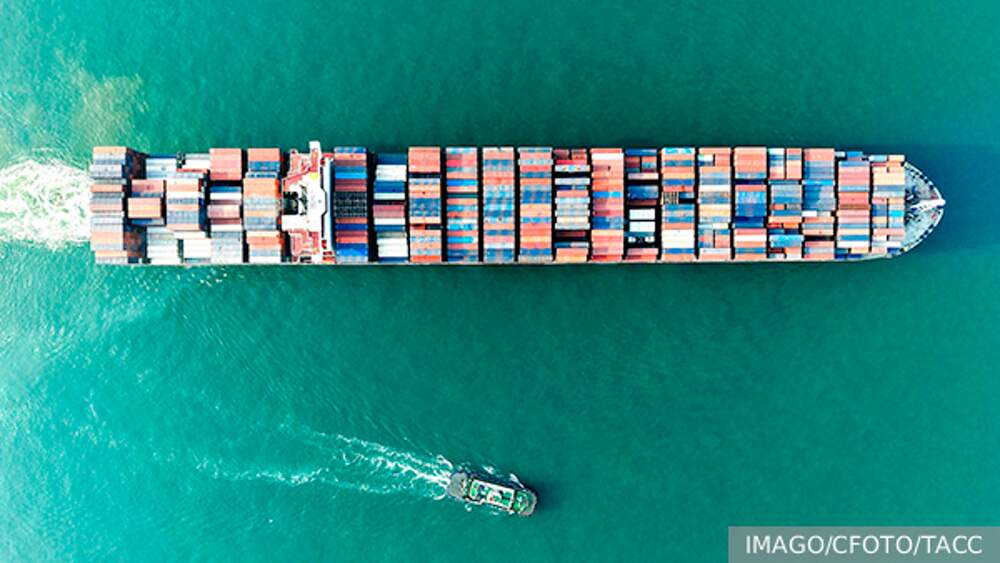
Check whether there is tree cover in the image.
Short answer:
No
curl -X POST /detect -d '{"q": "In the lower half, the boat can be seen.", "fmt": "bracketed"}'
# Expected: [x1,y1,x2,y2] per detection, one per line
[447,470,536,513]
